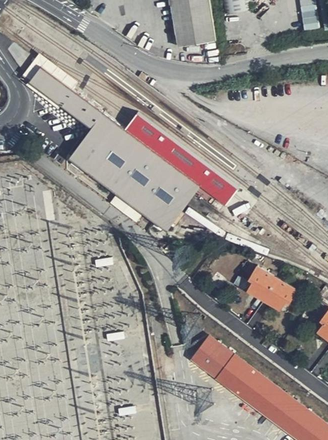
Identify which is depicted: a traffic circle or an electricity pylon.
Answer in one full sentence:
Looking from above, you can make out an electricity pylon.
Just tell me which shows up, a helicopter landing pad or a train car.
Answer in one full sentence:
Visible in the photo is a train car.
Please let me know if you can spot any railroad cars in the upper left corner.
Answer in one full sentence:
No, I see no railroad car in the upper left corner.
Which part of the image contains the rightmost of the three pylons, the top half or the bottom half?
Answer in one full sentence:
The rightmost of the three pylons is in the bottom half of the image.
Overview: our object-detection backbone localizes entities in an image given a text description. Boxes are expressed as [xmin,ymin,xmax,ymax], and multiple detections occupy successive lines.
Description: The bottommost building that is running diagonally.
[192,332,328,440]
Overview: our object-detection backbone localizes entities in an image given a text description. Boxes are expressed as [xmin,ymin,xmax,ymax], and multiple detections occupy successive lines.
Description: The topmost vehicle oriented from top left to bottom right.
[138,70,156,84]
